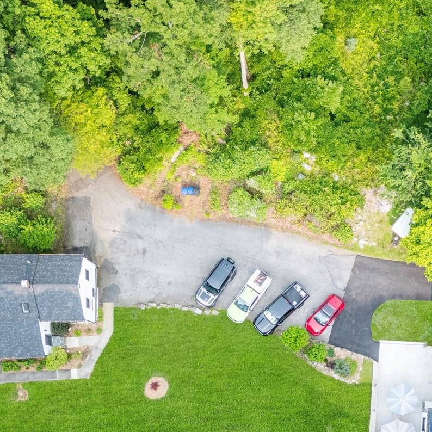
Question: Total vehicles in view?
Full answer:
Altogether the scene contains 4 vehicles.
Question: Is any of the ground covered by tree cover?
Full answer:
Yes, some tree cover is visible.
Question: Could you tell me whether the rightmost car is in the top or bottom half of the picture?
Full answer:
The rightmost car is in the bottom half of the image.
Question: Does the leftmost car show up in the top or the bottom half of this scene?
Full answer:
The leftmost car sits in the bottom half of the picture.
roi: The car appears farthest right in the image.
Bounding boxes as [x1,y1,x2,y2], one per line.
[308,291,345,338]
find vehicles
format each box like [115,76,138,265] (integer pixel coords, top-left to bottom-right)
[227,263,274,328]
[255,277,310,338]
[199,258,235,306]
[308,291,345,338]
